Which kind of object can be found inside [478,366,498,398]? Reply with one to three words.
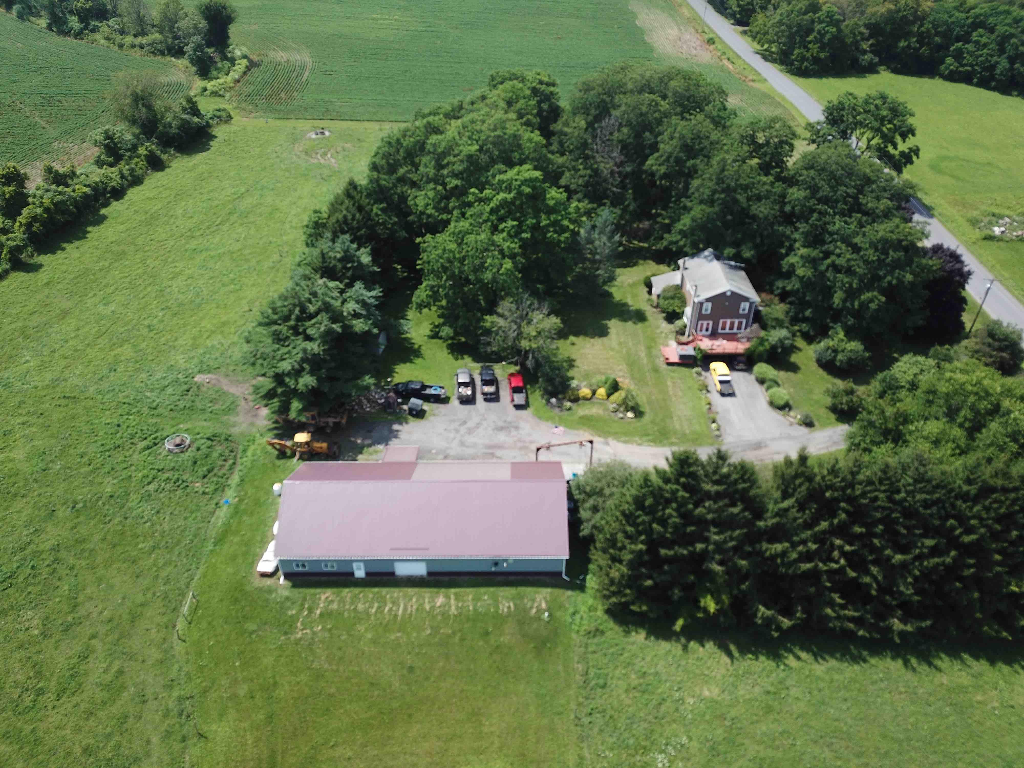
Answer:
vehicle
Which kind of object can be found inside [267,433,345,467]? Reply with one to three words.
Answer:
work vehicle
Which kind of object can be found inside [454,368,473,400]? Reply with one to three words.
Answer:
vehicle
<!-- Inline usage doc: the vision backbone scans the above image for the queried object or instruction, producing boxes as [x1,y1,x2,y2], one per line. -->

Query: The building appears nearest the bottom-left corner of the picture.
[273,446,570,584]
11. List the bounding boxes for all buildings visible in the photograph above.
[273,446,570,584]
[648,246,759,352]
